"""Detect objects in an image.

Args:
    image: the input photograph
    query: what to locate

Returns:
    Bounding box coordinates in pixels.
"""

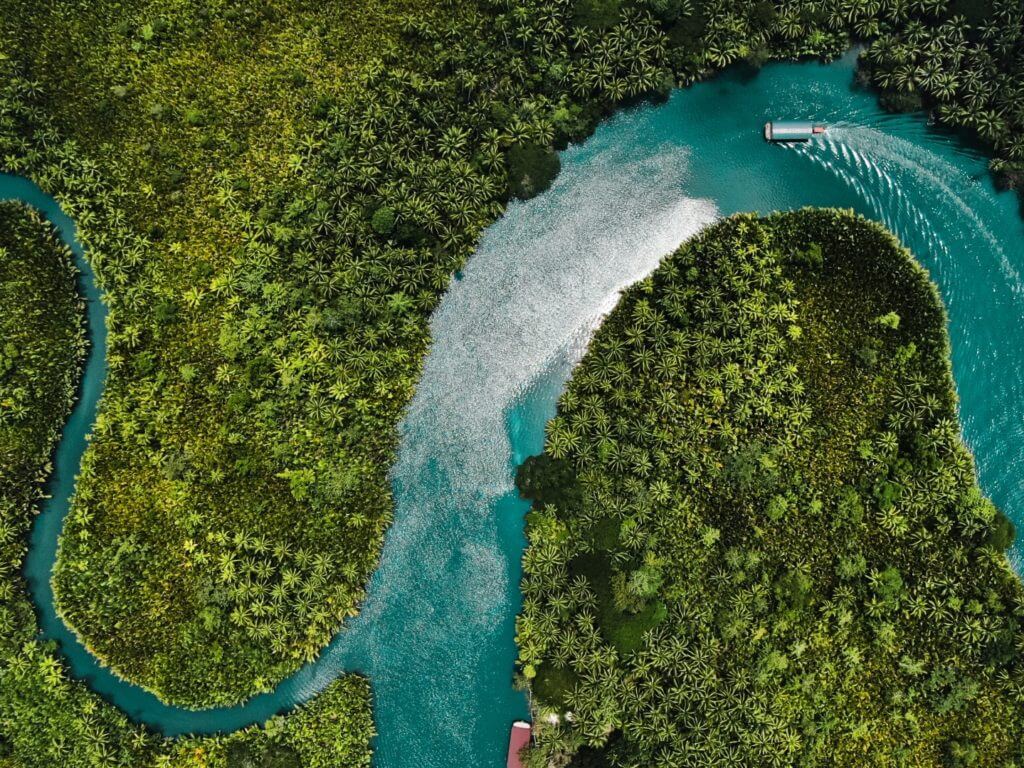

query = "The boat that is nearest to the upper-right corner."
[764,121,826,142]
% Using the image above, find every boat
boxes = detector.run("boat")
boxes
[764,121,826,142]
[505,719,529,768]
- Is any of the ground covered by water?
Yes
